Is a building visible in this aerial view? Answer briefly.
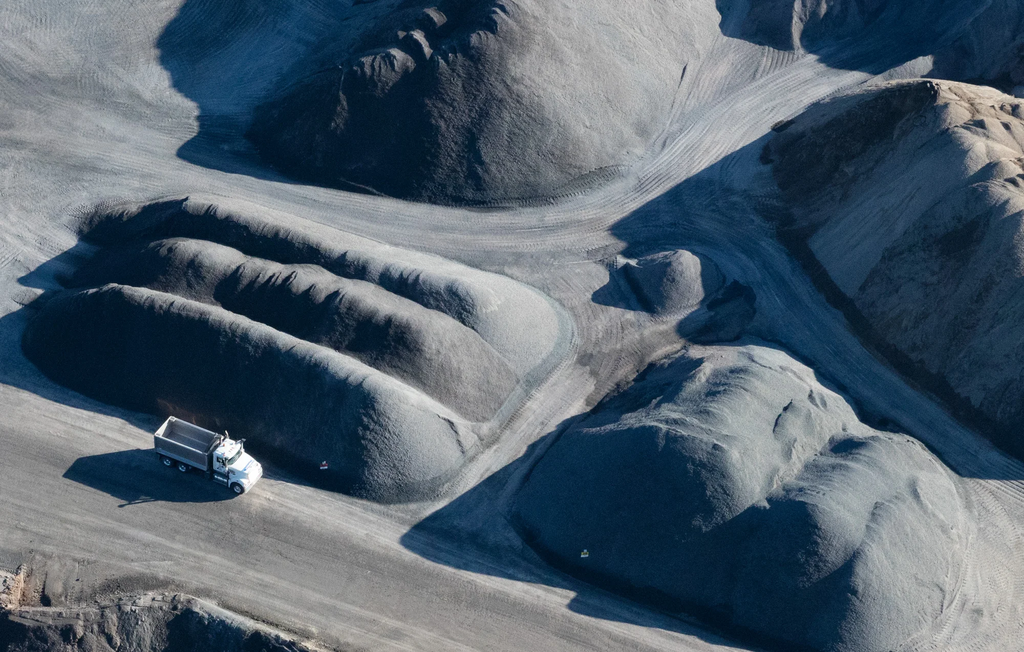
No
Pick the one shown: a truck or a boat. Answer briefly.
truck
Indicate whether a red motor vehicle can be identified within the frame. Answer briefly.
No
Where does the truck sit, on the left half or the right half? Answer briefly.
left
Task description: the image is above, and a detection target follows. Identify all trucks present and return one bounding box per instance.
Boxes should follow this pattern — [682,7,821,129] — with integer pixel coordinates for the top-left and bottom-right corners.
[154,415,263,494]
